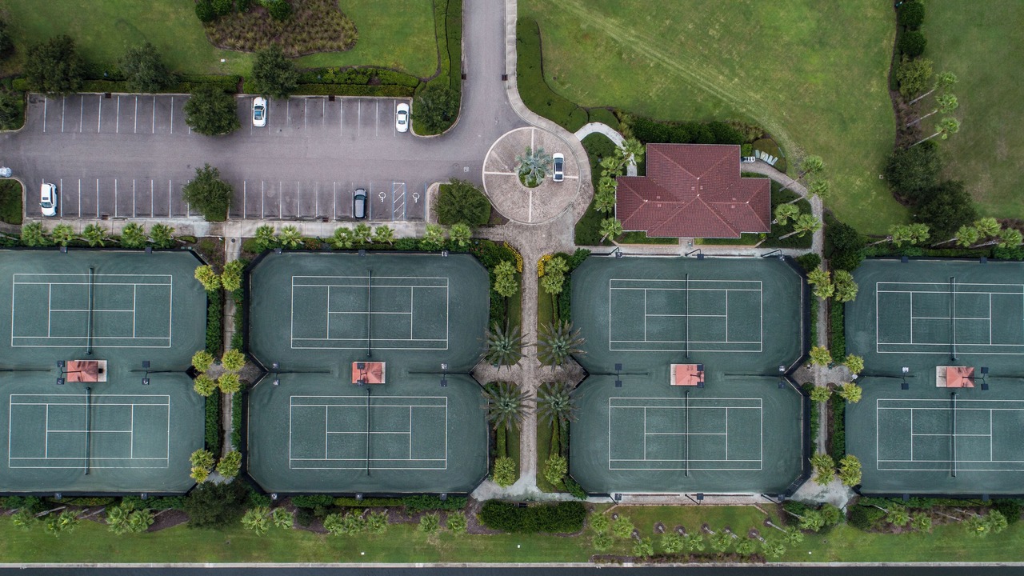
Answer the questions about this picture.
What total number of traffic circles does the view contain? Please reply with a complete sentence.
The count comes to 1 traffic circle.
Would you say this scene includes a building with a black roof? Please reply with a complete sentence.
No, I can't see a single building with a black roof in this photo.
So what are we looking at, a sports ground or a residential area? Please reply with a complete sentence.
The area seen from above is a sports ground.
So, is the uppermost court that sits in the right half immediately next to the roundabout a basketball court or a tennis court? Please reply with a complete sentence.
I'd identify the uppermost court that sits in the right half immediately next to the roundabout as a tennis court.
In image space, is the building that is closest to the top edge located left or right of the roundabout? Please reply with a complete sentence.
In the image, the building that is closest to the top edge sits on the right side of the roundabout.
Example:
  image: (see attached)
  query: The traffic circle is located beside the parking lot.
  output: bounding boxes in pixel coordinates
[478,123,583,227]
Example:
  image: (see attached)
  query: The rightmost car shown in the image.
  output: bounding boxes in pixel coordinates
[551,153,565,182]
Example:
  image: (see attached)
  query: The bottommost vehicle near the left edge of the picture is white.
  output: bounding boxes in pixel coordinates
[40,184,59,216]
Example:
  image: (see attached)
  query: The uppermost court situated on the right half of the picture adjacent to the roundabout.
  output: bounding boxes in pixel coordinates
[573,256,803,374]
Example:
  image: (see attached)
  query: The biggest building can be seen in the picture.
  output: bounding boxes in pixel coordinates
[615,143,771,239]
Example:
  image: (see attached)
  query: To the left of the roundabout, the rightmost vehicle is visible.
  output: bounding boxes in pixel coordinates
[395,104,409,133]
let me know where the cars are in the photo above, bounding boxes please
[0,166,12,179]
[252,98,268,128]
[395,104,409,133]
[551,153,565,182]
[353,189,368,219]
[40,184,59,216]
